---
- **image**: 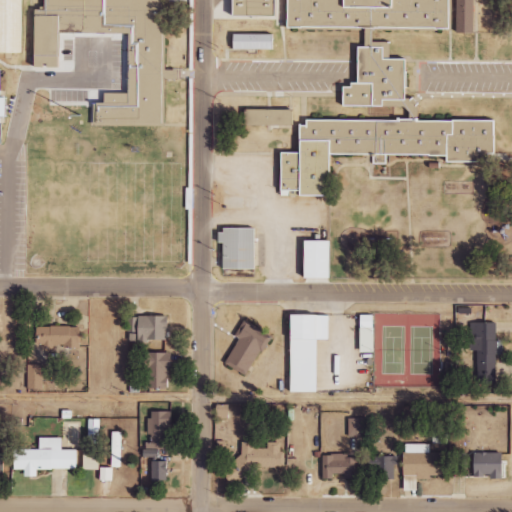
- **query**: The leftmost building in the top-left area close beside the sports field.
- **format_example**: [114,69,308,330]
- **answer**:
[34,0,164,124]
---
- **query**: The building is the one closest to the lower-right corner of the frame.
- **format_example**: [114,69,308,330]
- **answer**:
[474,452,508,478]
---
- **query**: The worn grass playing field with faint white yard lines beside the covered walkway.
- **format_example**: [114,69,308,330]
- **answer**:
[56,161,184,264]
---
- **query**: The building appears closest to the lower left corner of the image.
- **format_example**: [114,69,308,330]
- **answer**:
[14,437,78,477]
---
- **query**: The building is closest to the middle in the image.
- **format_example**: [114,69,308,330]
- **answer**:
[218,228,258,276]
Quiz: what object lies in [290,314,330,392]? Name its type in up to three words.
building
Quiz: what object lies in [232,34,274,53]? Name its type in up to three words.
building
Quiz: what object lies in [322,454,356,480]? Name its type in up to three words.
house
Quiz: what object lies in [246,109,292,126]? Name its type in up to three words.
shed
